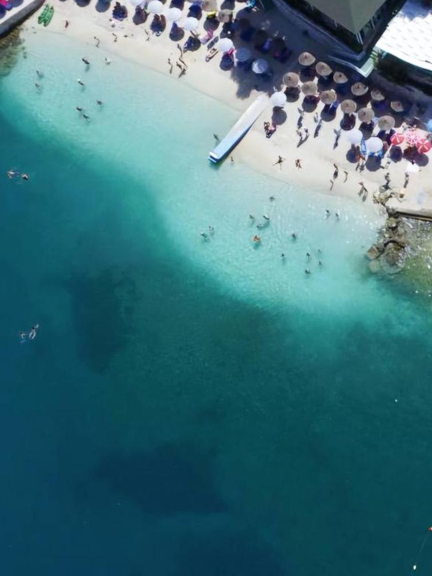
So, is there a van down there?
No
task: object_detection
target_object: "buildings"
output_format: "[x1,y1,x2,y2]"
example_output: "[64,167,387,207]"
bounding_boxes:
[374,0,432,75]
[306,0,396,46]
